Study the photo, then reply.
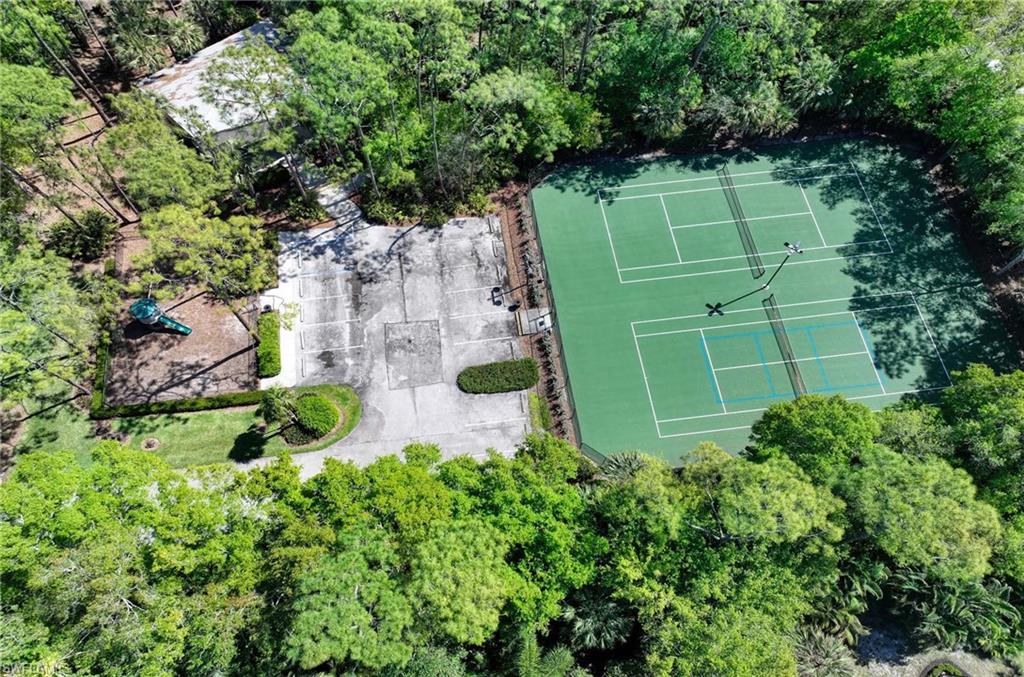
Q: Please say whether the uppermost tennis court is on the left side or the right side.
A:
right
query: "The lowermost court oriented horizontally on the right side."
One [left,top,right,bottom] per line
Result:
[554,262,1024,467]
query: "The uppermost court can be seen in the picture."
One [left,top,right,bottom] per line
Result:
[531,133,980,310]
